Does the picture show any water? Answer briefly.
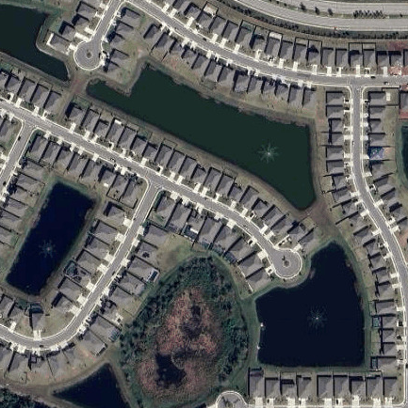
Yes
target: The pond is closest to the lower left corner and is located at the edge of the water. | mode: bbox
[54,364,130,408]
